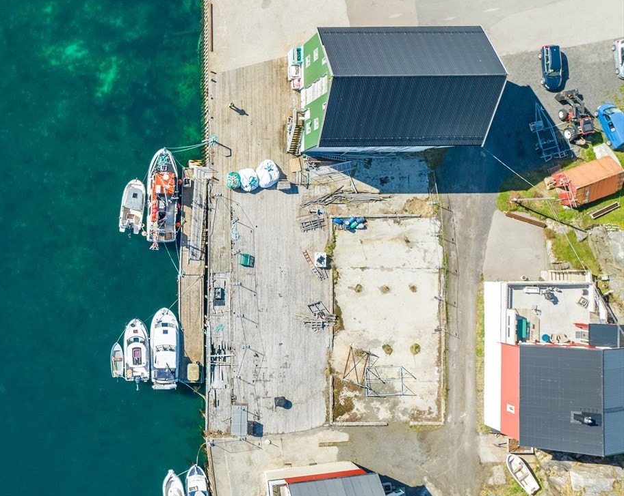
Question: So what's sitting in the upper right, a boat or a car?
car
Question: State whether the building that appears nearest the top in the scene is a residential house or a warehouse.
warehouse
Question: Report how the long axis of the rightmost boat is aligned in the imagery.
diagonally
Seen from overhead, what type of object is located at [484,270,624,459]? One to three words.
house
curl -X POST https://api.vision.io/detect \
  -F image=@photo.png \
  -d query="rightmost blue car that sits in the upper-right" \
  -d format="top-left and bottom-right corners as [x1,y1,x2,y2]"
[596,101,624,147]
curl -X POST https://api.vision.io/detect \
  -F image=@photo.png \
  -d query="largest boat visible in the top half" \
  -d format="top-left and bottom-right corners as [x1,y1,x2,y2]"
[146,148,183,249]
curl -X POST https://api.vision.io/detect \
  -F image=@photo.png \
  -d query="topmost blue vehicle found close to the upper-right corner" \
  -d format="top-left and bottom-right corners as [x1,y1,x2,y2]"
[536,43,565,92]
